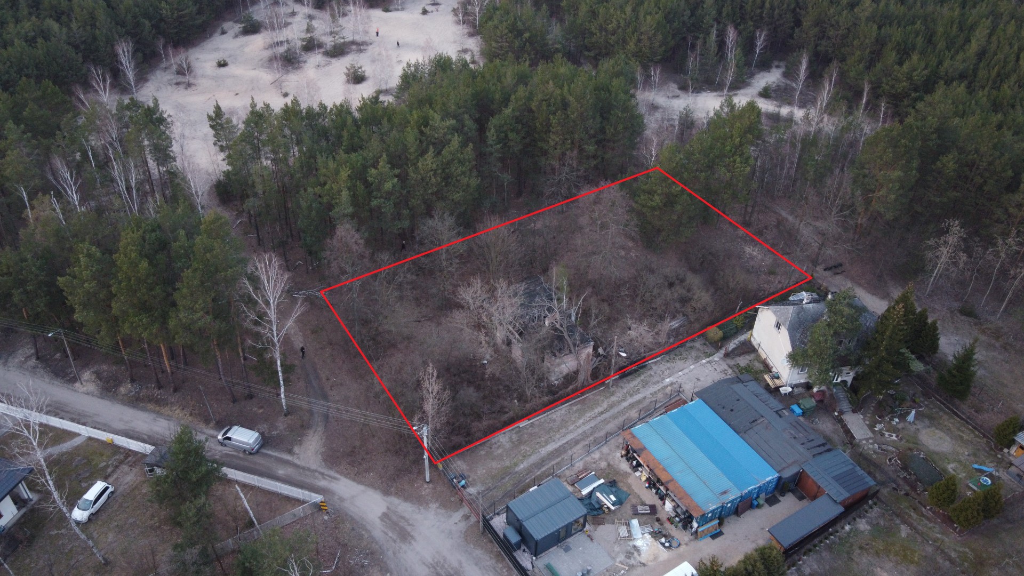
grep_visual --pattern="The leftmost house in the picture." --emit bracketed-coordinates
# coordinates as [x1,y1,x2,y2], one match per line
[0,460,49,539]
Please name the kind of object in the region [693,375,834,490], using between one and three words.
building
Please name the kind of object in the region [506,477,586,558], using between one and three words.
building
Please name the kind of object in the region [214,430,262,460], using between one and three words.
van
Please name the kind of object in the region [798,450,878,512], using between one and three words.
shed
